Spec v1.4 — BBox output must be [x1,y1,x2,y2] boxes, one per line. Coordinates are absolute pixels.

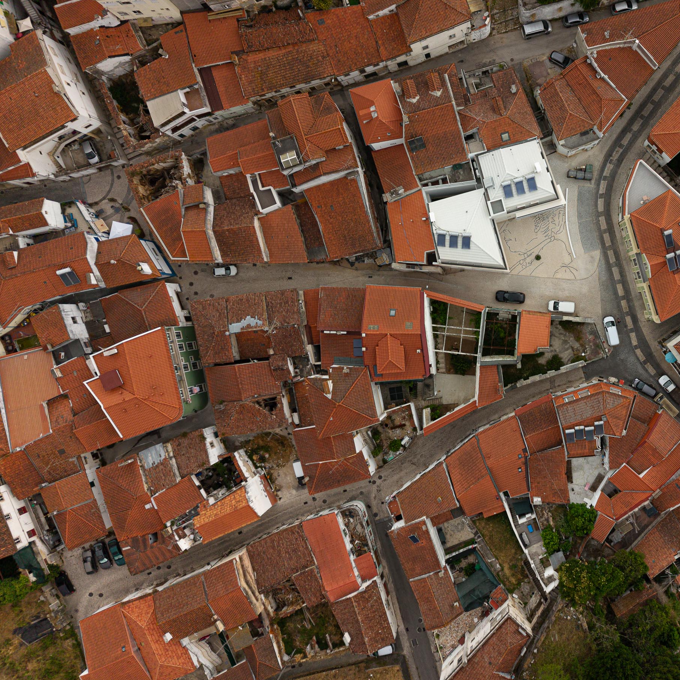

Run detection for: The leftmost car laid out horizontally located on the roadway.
[211,265,240,278]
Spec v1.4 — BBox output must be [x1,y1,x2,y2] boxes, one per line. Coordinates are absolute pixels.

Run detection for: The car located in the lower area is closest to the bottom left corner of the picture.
[56,569,76,597]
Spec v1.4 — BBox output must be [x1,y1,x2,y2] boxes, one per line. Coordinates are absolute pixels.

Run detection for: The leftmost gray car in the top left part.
[82,139,100,165]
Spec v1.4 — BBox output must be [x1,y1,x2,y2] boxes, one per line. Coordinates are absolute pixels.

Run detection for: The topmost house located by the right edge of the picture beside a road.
[577,0,680,70]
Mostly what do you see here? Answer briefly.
buildings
